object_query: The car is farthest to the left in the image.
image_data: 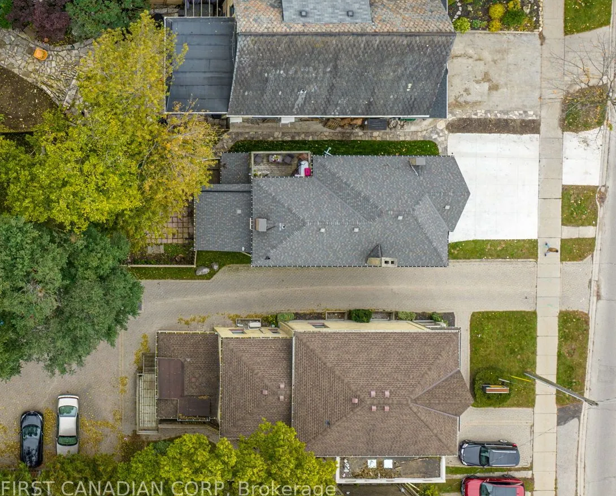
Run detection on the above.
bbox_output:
[17,408,45,469]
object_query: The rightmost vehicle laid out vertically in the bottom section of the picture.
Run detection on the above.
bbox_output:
[53,393,83,458]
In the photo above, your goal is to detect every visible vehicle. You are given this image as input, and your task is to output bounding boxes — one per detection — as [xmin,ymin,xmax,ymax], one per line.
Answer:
[53,393,83,458]
[459,472,524,496]
[457,437,521,469]
[17,408,45,469]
